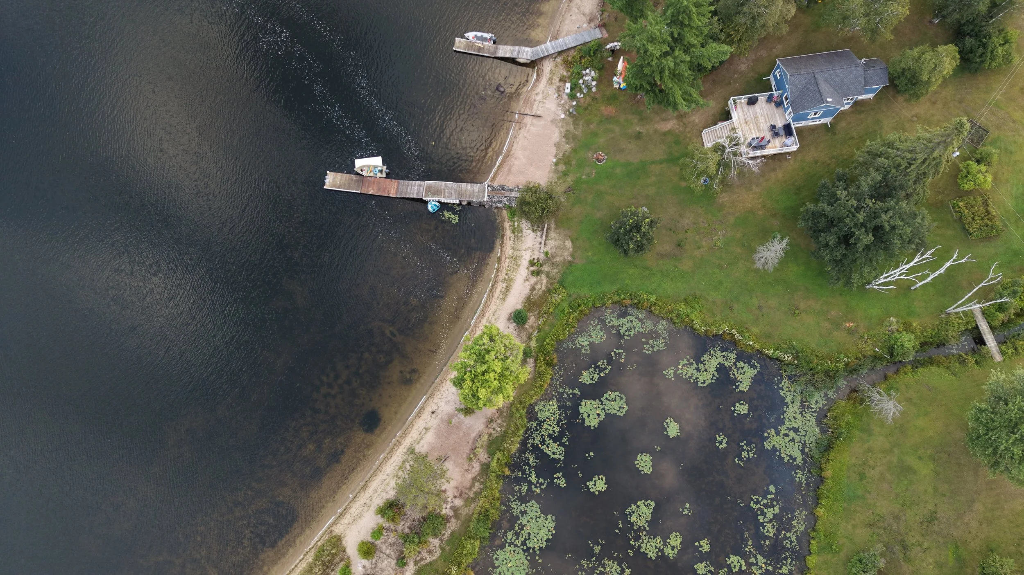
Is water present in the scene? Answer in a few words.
Yes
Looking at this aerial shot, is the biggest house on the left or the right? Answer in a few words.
right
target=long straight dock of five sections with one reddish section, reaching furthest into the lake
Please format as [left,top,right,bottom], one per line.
[323,169,488,202]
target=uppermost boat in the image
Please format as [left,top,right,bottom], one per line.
[465,31,497,43]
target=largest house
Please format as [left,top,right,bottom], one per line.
[766,48,890,123]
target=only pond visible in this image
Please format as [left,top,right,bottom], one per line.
[478,311,1001,575]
